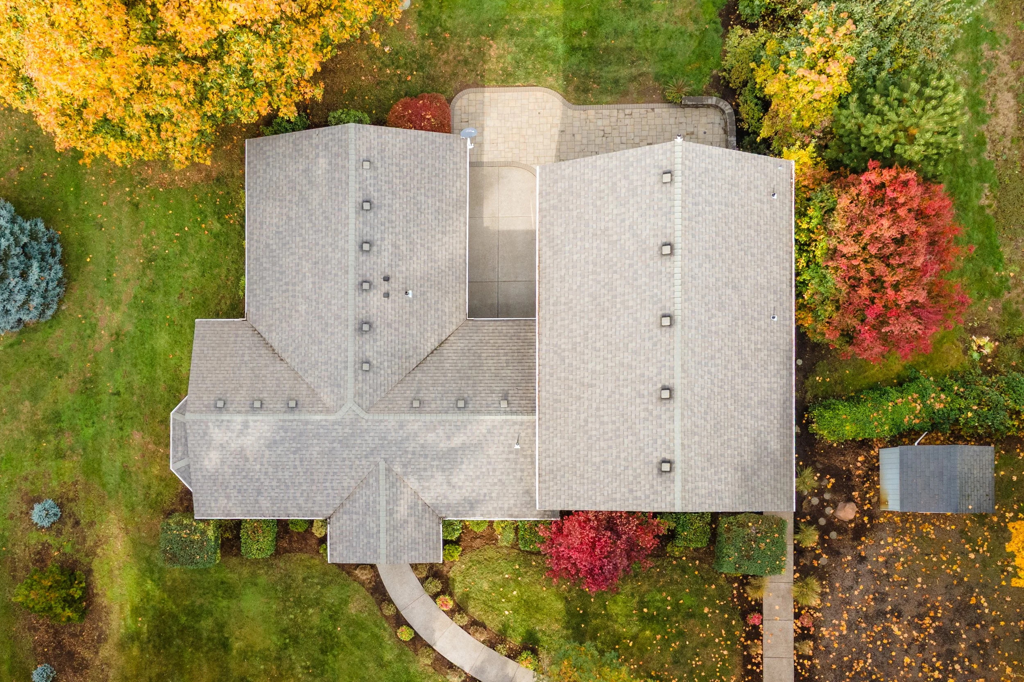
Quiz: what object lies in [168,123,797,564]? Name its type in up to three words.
house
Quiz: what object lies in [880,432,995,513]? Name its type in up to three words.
shed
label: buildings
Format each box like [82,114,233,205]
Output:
[168,123,797,564]
[880,432,995,513]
